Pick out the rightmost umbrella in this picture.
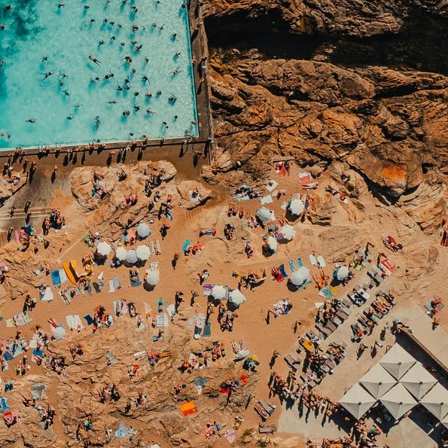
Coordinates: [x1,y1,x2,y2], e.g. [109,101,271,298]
[331,265,350,281]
